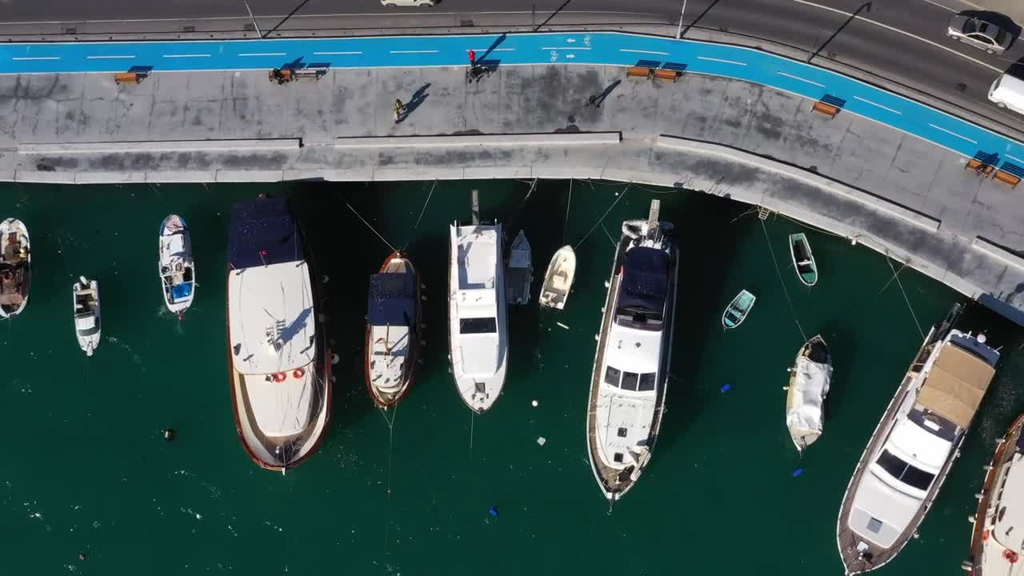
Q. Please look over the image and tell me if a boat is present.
Yes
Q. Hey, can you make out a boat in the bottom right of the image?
Yes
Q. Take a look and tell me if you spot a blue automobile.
No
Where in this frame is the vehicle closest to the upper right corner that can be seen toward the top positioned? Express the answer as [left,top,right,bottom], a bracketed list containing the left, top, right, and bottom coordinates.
[948,14,1013,51]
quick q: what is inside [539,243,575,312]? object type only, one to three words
boat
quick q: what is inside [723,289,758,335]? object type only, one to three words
boat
